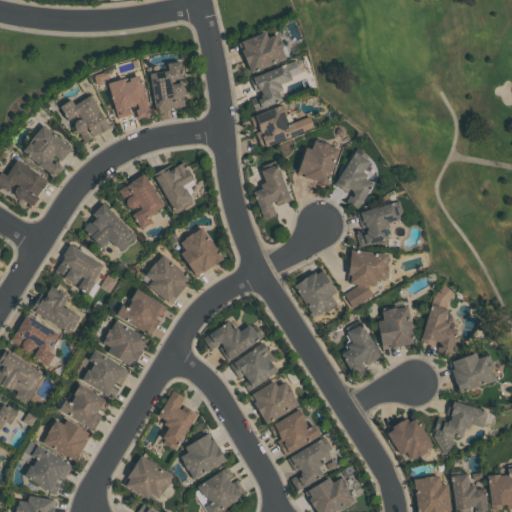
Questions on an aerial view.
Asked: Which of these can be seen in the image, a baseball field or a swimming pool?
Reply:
swimming pool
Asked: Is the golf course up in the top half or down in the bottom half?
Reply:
top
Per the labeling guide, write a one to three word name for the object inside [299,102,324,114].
swimming pool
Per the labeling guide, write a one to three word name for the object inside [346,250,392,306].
house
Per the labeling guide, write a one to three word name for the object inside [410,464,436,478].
swimming pool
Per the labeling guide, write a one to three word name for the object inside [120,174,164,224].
house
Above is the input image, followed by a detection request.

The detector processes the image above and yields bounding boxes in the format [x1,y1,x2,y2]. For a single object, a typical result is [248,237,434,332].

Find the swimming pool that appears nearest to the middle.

[186,215,212,230]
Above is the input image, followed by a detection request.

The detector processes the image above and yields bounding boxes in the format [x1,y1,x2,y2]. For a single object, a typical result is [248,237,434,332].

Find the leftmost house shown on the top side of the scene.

[0,160,46,206]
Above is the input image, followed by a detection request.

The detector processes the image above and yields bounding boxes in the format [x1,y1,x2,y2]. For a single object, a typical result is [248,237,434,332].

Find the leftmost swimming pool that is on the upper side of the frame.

[13,130,29,148]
